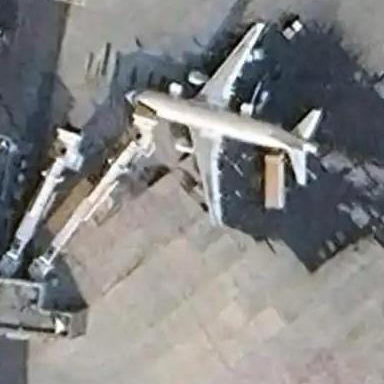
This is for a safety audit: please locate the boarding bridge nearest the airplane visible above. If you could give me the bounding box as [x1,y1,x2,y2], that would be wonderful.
[29,102,158,280]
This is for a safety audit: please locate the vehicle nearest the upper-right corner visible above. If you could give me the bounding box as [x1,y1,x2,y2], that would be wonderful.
[281,20,303,39]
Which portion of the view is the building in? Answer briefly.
bottom left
